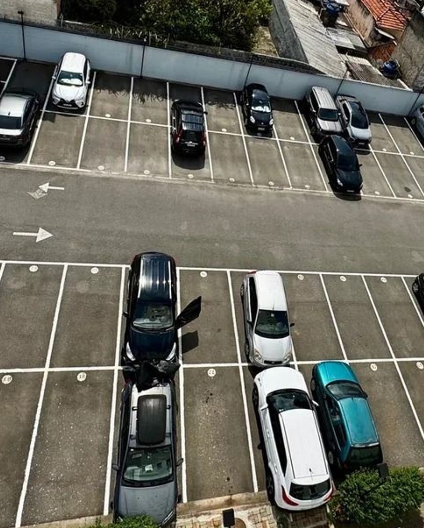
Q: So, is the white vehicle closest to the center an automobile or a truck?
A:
automobile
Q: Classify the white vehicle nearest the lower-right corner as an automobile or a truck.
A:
automobile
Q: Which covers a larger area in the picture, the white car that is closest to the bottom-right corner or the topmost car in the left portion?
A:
the white car that is closest to the bottom-right corner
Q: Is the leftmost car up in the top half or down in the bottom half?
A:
top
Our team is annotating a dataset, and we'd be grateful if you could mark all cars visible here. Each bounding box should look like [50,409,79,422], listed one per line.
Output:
[125,253,198,377]
[320,139,360,191]
[413,107,424,136]
[114,380,180,526]
[253,368,328,508]
[335,99,371,146]
[241,274,294,367]
[311,360,380,470]
[242,87,274,129]
[305,88,342,138]
[50,54,89,108]
[172,101,207,152]
[0,90,37,147]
